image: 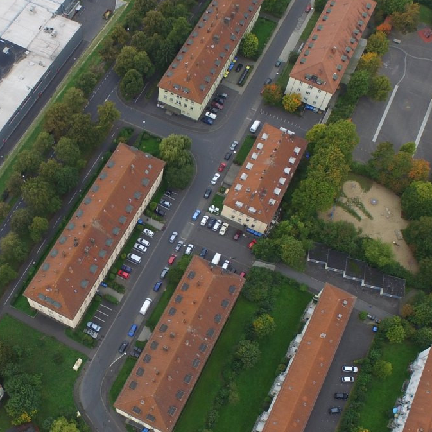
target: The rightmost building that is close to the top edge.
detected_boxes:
[286,0,377,110]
